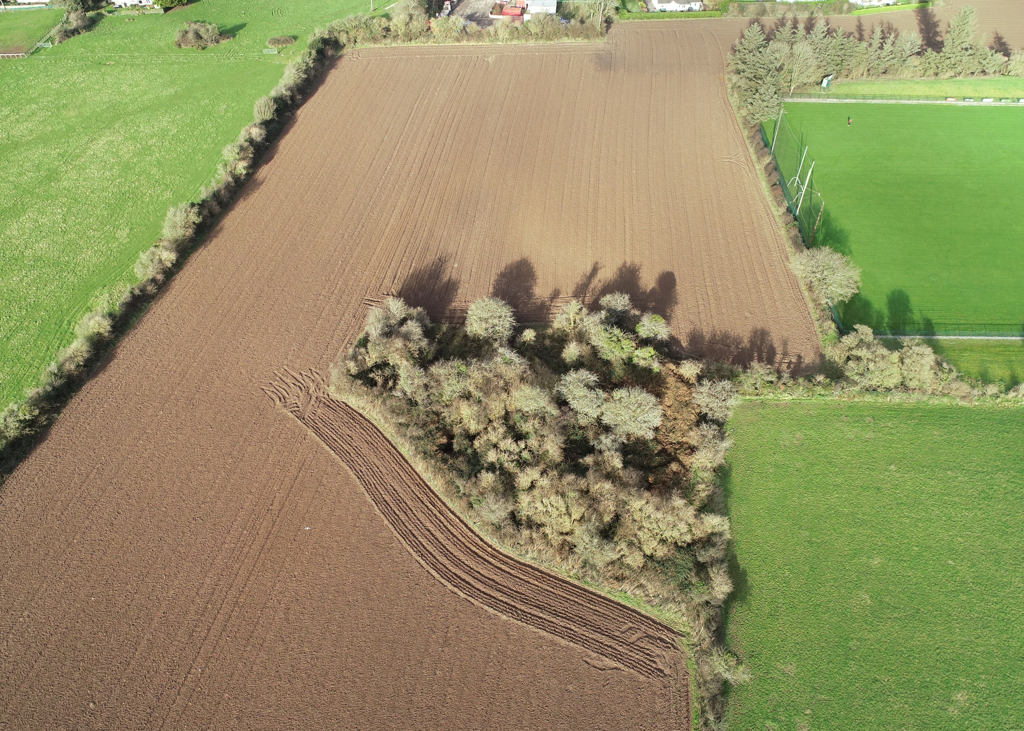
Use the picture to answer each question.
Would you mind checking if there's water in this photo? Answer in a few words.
No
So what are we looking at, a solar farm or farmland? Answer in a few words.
farmland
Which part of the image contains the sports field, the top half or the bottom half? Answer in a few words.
top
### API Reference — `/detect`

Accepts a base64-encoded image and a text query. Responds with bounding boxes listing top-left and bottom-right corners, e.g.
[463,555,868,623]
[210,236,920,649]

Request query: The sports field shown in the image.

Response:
[762,103,1024,337]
